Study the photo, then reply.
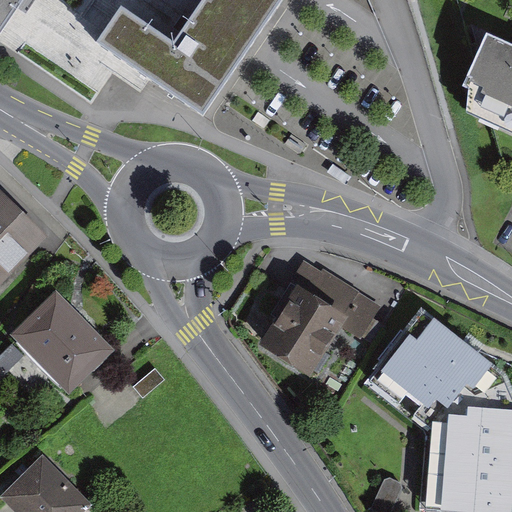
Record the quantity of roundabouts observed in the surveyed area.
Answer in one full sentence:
In total, 1 roundabout can be seen.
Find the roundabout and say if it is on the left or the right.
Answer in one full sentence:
The roundabout is on the left side of the image.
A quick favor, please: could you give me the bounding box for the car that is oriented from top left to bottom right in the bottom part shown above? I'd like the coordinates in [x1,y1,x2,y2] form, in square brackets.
[254,427,275,451]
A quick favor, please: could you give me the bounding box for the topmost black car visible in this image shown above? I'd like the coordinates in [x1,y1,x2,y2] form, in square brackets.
[300,43,319,64]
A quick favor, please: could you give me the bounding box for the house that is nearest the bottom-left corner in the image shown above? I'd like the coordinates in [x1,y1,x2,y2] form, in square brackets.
[1,455,90,512]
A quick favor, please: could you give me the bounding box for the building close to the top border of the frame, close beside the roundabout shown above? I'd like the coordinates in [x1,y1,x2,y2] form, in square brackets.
[96,0,284,114]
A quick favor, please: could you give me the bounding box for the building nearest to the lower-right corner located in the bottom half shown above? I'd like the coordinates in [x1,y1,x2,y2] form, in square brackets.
[424,406,512,512]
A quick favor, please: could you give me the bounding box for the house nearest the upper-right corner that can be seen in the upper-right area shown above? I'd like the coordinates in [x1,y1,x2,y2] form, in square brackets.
[463,33,512,132]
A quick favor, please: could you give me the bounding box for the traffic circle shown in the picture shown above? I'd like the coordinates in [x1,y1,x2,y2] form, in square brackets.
[104,142,244,282]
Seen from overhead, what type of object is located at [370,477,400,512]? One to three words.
building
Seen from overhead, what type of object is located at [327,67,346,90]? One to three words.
car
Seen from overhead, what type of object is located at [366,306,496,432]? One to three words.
house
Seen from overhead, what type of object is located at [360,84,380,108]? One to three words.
car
